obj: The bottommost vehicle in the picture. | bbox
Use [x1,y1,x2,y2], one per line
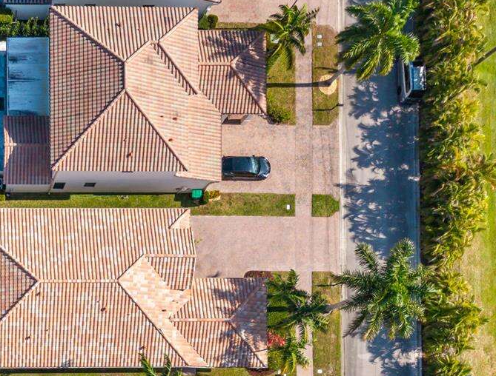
[218,153,271,180]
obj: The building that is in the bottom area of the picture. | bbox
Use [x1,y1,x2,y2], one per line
[0,206,269,369]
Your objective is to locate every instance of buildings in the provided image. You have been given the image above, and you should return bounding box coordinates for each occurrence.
[3,3,268,193]
[0,206,269,369]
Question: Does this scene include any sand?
No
